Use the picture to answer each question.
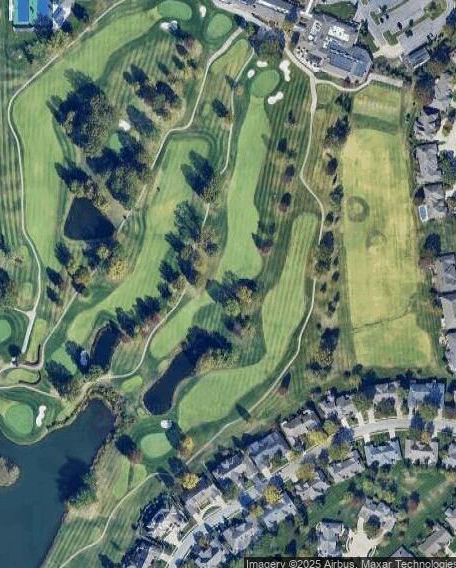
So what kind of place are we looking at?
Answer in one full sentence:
What you see here is a golf course.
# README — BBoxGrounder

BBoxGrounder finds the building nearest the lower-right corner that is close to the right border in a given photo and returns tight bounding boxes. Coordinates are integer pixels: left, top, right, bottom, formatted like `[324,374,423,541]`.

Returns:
[418,530,451,559]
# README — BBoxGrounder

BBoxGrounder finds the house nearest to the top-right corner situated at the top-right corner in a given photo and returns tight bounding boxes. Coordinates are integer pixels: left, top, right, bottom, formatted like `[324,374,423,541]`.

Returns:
[401,42,434,71]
